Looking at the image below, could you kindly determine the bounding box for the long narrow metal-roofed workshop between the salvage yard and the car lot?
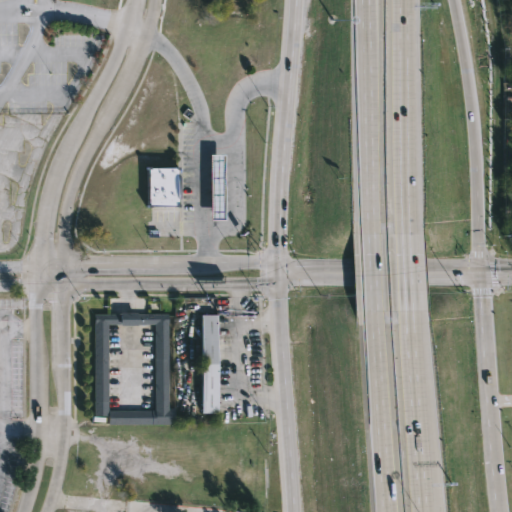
[202,315,220,413]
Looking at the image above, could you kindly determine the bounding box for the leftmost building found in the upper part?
[147,167,182,207]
